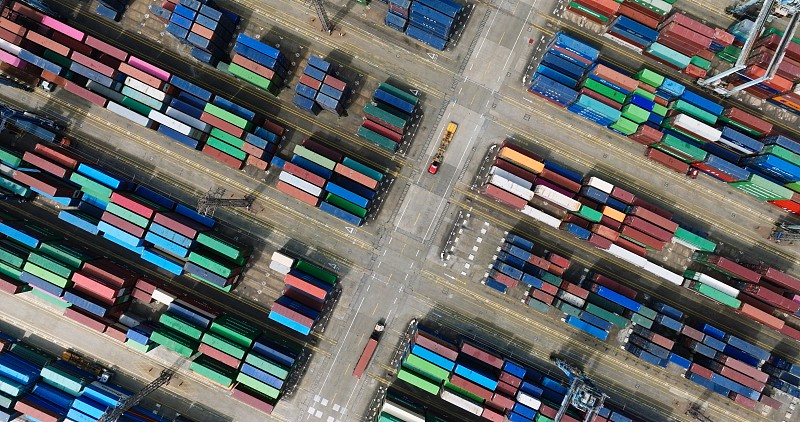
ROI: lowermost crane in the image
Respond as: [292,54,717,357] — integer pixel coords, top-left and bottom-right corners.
[547,356,609,422]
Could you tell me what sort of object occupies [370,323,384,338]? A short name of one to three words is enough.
vehicle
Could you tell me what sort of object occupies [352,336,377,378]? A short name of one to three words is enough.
shipping container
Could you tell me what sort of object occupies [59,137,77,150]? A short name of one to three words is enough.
vehicle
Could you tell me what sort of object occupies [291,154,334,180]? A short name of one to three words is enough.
shipping container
